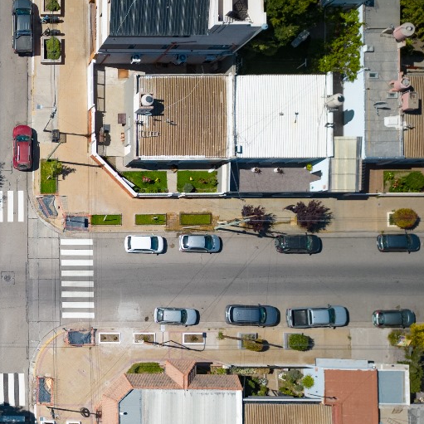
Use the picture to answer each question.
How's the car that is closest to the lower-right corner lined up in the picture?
from left to right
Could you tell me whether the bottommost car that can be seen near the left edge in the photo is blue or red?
red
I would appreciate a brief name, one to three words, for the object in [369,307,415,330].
car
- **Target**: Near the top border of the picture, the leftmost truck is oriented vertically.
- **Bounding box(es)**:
[12,0,35,57]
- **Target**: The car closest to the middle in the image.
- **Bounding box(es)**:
[177,233,220,254]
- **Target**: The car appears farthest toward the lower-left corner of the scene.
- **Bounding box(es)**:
[152,306,199,328]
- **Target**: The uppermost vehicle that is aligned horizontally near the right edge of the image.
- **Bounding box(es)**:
[373,231,419,254]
